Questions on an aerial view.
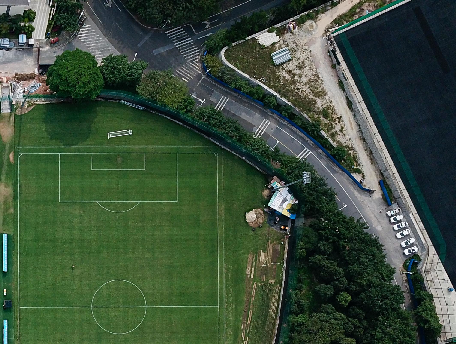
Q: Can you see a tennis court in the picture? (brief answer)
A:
No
